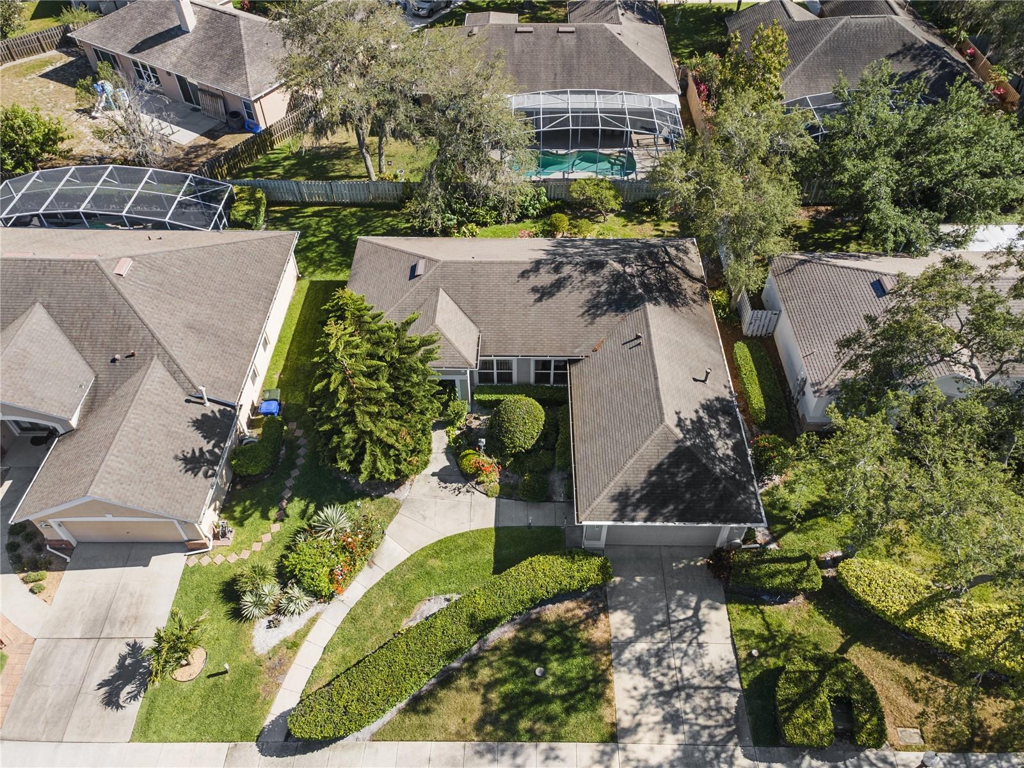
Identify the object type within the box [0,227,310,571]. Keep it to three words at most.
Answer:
house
